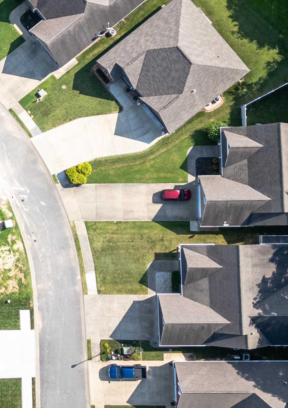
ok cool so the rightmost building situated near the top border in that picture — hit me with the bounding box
[96,0,250,135]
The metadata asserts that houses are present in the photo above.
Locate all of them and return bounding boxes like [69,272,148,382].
[20,0,146,68]
[195,124,288,228]
[171,358,288,408]
[96,0,250,135]
[154,245,288,353]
